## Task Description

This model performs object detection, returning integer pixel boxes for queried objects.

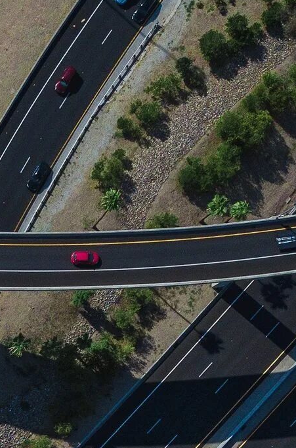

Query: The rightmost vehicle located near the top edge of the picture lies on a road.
[131,0,156,23]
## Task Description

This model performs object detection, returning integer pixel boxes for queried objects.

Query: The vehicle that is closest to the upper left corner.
[54,64,76,95]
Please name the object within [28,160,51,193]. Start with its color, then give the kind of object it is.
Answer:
black car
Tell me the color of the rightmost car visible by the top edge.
black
